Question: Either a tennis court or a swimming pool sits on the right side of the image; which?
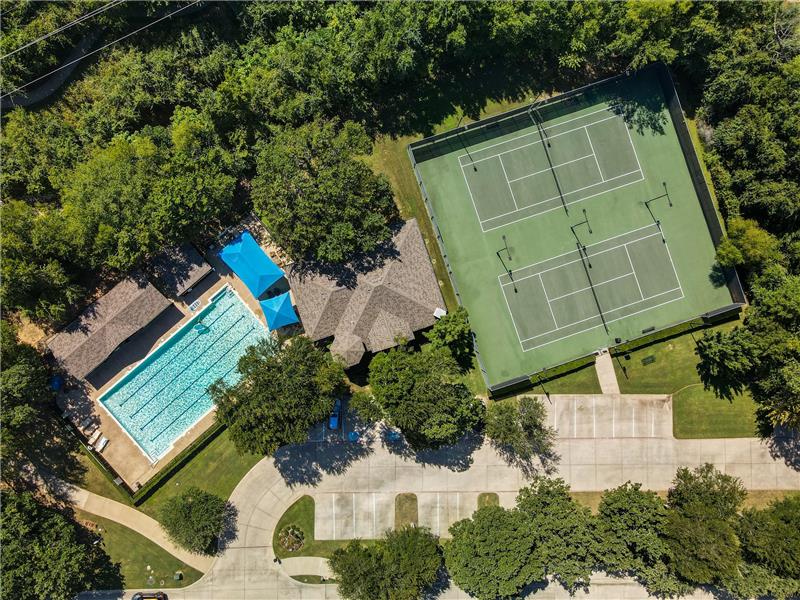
tennis court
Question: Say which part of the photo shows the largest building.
center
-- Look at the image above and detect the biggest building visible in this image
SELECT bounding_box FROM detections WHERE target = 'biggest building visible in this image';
[284,218,446,364]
